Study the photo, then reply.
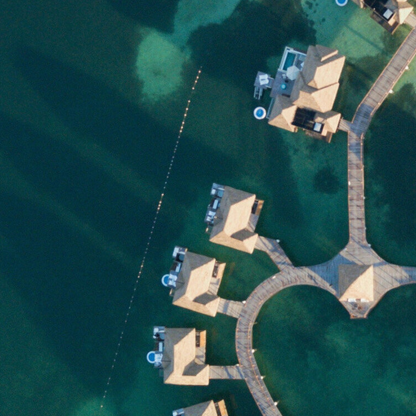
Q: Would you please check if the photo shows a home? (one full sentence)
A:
Yes, there's a home down there.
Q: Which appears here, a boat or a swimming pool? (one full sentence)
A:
I can see a swimming pool in this picture.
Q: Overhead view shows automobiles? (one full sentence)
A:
No, I find no automobile anywhere in the image.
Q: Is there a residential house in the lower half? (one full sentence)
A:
Yes, there is a residential house in the lower half.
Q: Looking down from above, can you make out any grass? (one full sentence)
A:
No, there's no grass in this view.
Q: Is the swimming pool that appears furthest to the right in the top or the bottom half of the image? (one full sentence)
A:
Seen from above, the swimming pool that appears furthest to the right lies in the top half of the view.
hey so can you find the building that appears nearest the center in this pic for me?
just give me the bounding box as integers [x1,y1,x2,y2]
[203,181,266,253]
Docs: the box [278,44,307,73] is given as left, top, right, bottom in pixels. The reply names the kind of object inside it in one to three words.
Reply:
swimming pool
